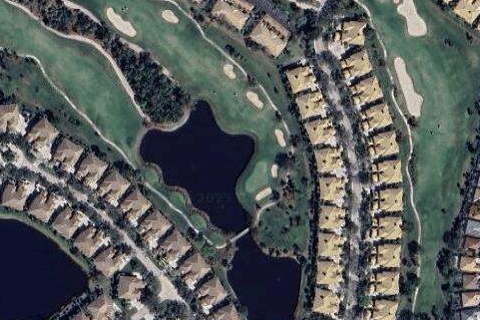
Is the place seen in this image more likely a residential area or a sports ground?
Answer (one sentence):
The picture captures a residential area.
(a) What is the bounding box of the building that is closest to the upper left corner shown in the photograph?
[0,104,20,129]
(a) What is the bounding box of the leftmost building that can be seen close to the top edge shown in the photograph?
[213,0,255,28]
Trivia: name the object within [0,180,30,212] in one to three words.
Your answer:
house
